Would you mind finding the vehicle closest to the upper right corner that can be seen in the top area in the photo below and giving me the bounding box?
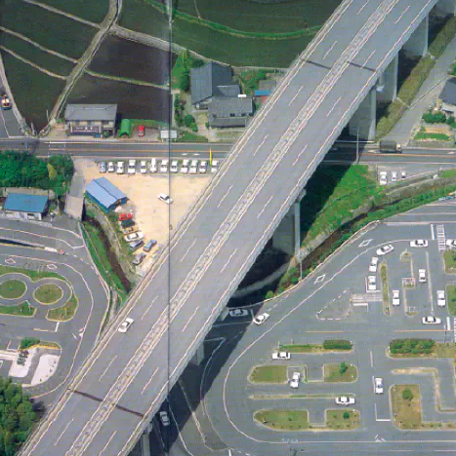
[378,140,402,152]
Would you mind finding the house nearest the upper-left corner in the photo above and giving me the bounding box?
[66,105,117,134]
